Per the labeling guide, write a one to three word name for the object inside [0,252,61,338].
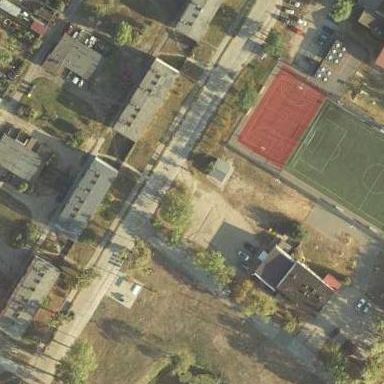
house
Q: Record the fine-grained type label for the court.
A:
basketball court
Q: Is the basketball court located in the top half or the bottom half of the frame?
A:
top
